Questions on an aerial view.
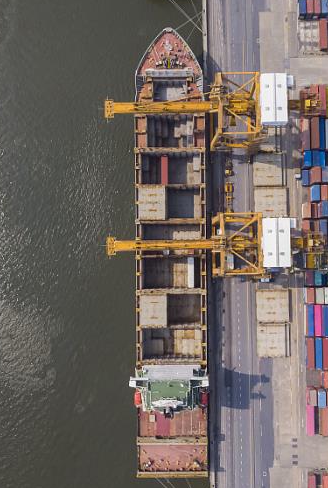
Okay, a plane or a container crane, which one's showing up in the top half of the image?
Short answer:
container crane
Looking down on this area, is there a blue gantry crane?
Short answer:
No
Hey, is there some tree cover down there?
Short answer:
No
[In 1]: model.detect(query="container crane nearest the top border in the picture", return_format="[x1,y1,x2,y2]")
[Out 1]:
[102,71,321,158]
